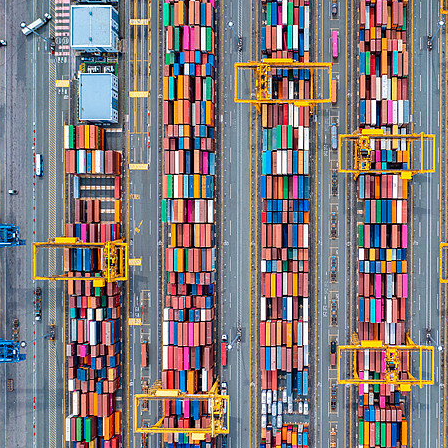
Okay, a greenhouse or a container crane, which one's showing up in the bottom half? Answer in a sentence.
It is a container crane that can be seen in the bottom half.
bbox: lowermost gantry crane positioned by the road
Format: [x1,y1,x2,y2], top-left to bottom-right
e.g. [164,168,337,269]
[134,377,229,442]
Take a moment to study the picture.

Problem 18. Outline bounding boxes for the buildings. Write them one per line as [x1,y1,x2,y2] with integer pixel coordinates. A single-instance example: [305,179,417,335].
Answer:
[71,5,118,52]
[79,73,119,125]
